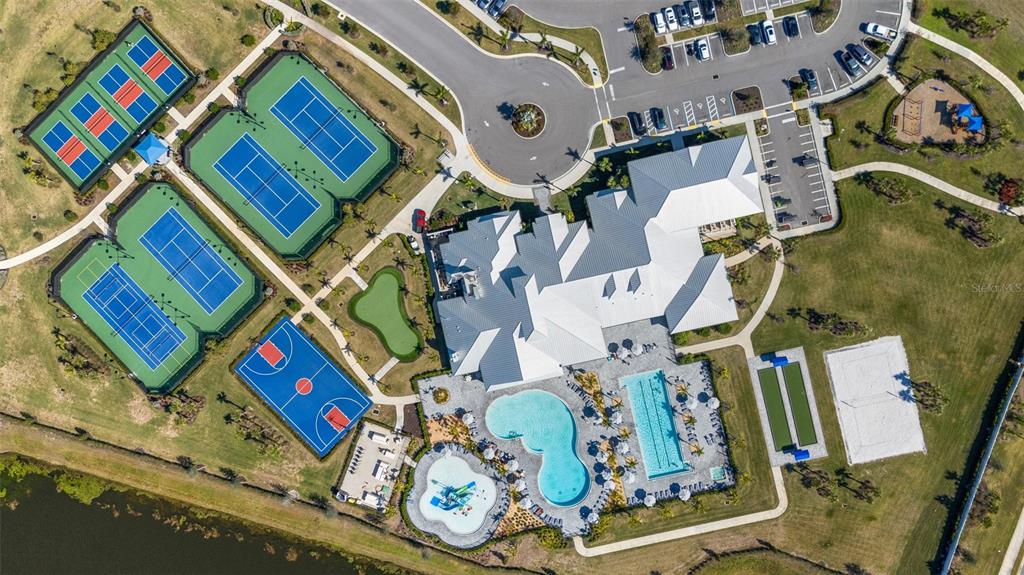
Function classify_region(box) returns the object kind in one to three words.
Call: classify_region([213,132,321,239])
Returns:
tennis court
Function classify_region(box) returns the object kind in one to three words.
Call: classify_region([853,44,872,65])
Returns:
car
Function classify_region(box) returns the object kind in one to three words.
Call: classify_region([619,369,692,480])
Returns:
swimming pool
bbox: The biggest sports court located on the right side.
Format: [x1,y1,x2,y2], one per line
[824,336,926,466]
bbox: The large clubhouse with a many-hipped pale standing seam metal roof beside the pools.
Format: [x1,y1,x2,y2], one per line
[437,135,763,392]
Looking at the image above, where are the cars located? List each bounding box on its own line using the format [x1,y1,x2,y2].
[475,0,493,13]
[488,0,507,20]
[800,156,822,168]
[784,15,796,37]
[772,196,794,208]
[775,211,797,224]
[632,112,644,134]
[764,173,786,185]
[841,52,863,76]
[691,1,703,23]
[654,12,665,34]
[747,24,760,46]
[704,0,716,20]
[662,48,672,70]
[763,21,776,43]
[853,44,872,65]
[678,5,690,27]
[698,39,710,61]
[665,8,677,30]
[652,107,665,129]
[802,69,817,91]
